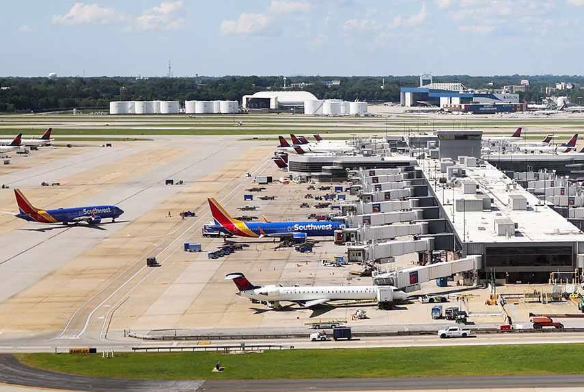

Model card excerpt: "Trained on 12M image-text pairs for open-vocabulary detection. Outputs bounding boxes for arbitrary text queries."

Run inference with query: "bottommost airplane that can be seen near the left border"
[14,186,123,225]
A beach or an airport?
airport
